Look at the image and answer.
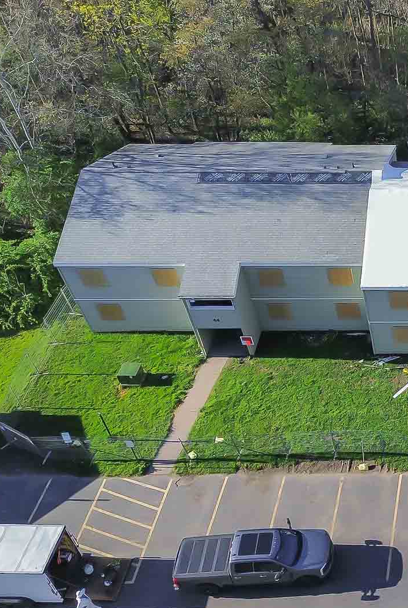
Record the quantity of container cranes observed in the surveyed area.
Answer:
0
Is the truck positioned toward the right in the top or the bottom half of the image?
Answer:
bottom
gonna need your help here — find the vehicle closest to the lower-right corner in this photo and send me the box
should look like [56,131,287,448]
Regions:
[172,524,342,590]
